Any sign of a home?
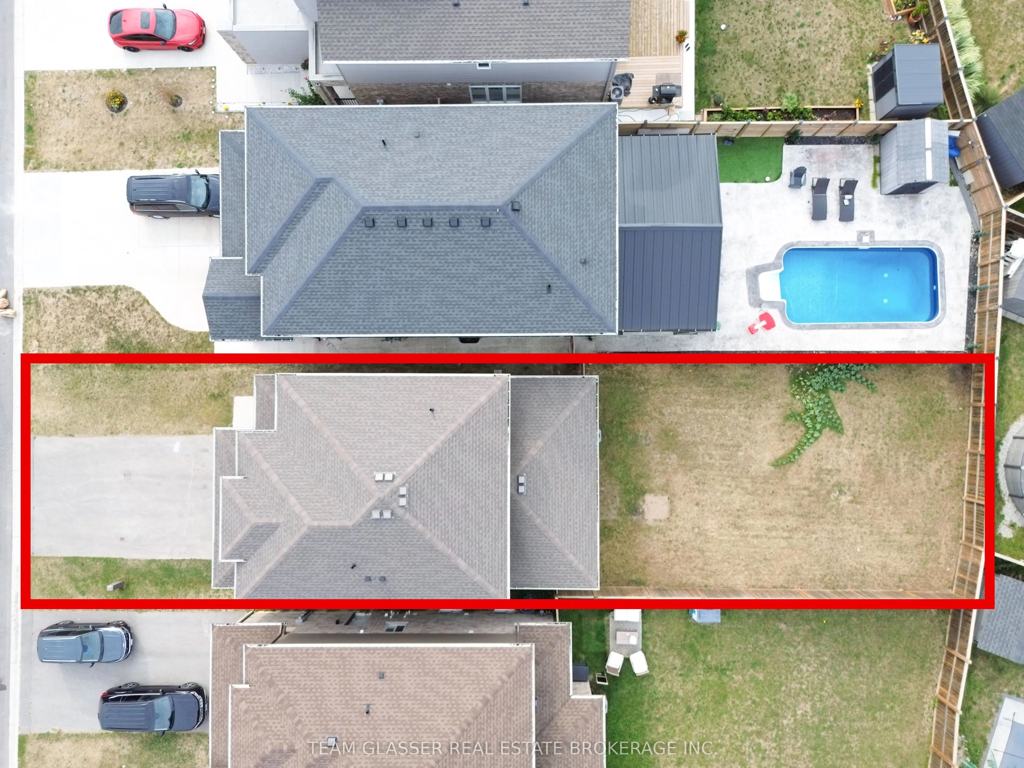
Yes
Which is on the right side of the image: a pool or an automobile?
pool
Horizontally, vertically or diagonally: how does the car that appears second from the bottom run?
horizontally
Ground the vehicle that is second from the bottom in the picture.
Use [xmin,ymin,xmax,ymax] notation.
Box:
[34,620,141,675]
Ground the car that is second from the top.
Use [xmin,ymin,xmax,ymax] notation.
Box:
[126,166,217,219]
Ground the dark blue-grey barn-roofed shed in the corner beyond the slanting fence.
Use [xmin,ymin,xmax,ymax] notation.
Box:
[977,92,1024,187]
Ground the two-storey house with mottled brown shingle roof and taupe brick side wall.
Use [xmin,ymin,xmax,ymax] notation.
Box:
[207,601,608,768]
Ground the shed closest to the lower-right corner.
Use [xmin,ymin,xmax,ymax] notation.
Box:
[961,568,1024,664]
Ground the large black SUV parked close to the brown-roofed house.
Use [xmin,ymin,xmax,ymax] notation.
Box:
[96,681,208,740]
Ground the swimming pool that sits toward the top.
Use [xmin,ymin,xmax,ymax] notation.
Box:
[746,230,947,330]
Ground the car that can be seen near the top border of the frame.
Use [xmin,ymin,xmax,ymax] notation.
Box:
[106,0,210,53]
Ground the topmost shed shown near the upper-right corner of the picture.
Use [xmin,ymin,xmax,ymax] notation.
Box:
[873,42,945,118]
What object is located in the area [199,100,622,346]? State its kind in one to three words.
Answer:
house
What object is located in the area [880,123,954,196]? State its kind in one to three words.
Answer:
shed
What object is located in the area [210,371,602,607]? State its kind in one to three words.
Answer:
house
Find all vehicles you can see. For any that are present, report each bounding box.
[126,166,217,219]
[106,0,210,53]
[34,620,141,675]
[96,681,208,740]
